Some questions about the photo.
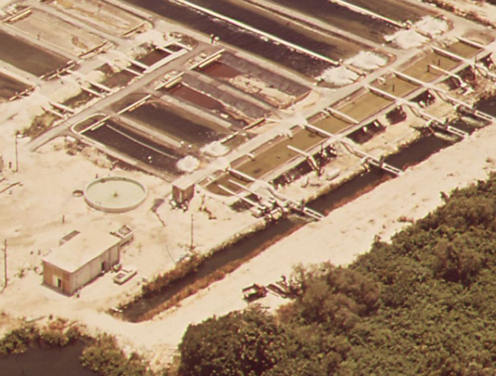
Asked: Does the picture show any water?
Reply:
Yes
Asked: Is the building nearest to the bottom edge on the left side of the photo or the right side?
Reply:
left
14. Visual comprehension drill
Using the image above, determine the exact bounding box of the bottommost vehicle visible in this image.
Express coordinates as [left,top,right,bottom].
[241,281,266,299]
